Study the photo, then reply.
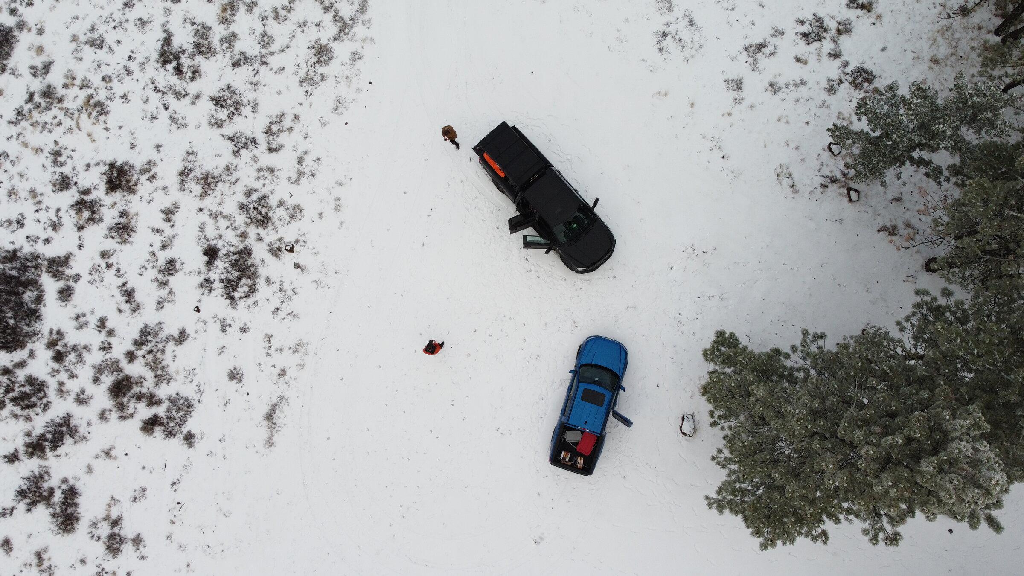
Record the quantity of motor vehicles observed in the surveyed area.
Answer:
2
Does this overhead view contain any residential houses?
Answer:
No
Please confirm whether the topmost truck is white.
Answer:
No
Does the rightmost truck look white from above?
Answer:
No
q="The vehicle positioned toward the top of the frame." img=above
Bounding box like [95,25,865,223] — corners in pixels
[474,119,616,273]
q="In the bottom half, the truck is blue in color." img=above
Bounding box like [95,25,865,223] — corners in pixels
[547,334,631,481]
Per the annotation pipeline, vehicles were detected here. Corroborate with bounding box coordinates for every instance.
[547,334,631,481]
[474,119,616,273]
